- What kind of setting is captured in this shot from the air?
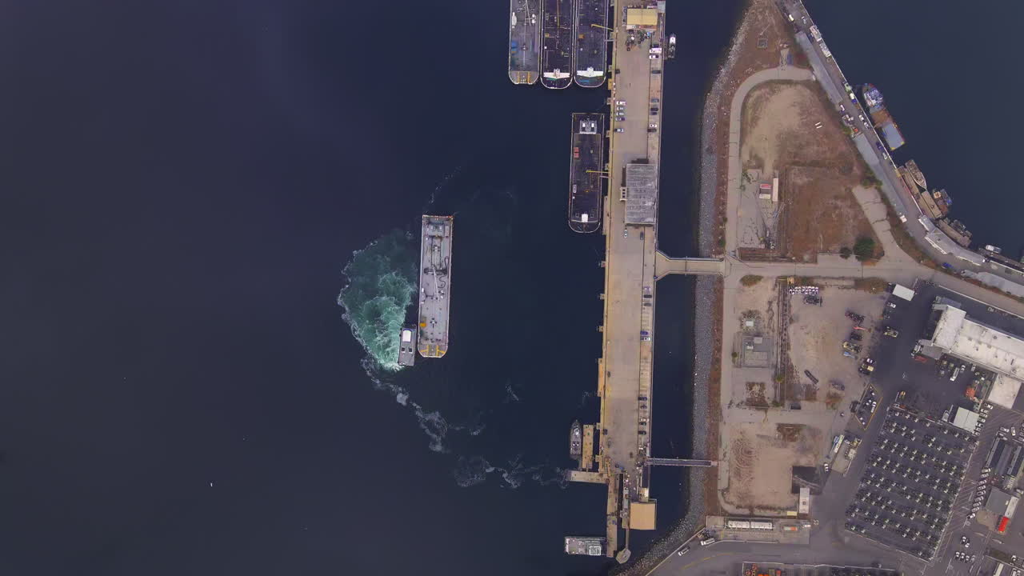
port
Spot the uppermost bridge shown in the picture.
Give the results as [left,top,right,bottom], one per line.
[656,248,725,280]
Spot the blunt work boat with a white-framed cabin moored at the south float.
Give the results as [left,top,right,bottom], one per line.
[565,536,605,555]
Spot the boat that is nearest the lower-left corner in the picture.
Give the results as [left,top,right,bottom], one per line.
[398,325,429,366]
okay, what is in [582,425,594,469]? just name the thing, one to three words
pier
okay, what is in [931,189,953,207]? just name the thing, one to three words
boat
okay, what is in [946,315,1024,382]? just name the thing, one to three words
building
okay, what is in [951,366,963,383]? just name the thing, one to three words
vehicle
